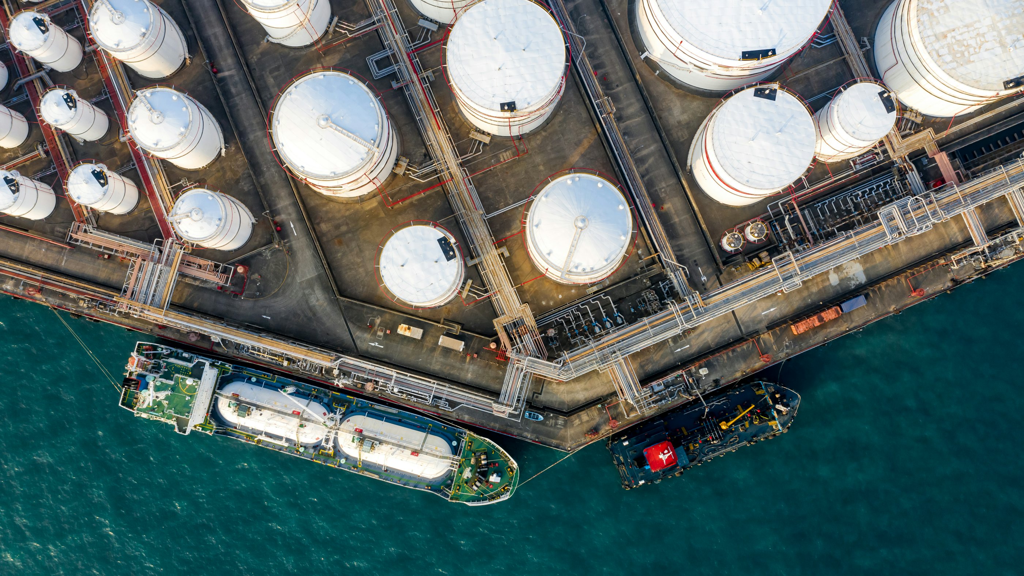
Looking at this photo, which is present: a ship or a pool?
ship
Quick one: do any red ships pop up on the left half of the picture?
No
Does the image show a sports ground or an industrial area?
industrial area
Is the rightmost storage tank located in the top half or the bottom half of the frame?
top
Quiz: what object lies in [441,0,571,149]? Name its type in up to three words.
storage tank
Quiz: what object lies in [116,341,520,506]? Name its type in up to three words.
ship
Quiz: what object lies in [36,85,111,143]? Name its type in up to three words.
storage tank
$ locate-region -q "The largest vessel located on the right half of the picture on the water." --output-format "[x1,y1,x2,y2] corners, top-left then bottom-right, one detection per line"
[605,381,802,491]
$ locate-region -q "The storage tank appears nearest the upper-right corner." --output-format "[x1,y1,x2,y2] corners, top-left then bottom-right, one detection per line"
[869,0,1024,133]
